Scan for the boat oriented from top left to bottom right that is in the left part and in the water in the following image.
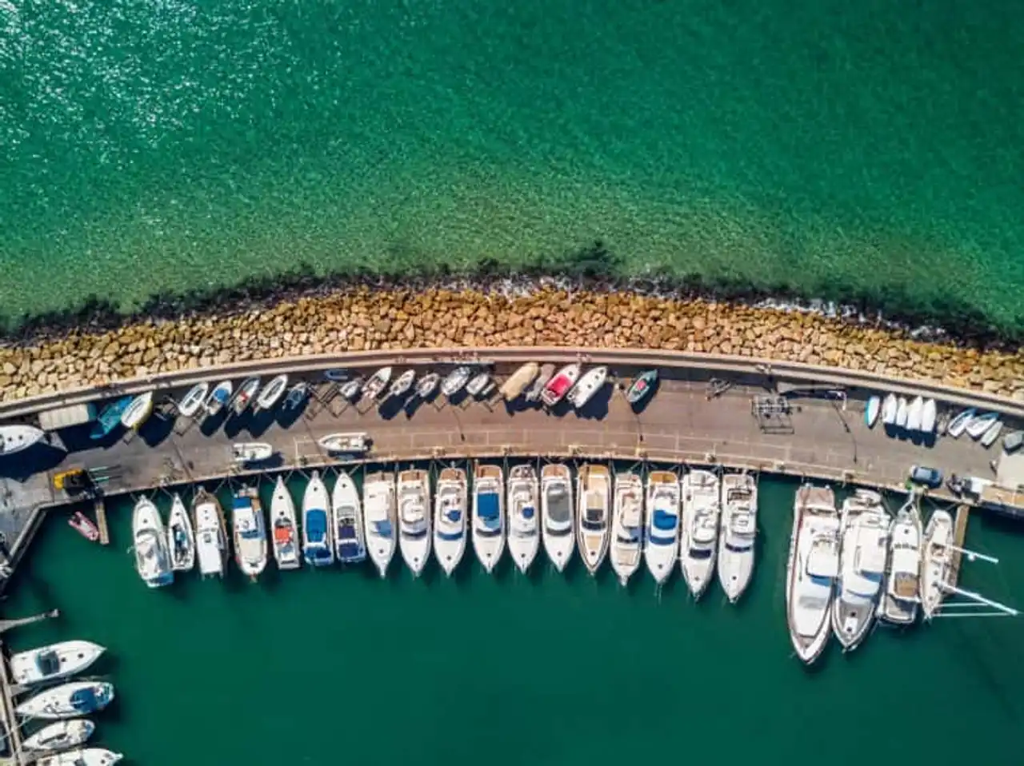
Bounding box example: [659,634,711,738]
[65,510,100,539]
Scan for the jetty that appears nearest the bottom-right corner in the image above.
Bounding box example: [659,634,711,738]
[946,502,969,591]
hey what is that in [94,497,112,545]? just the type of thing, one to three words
pier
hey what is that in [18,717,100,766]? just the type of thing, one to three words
boat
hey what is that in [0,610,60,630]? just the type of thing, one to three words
pier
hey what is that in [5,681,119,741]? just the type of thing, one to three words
boat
